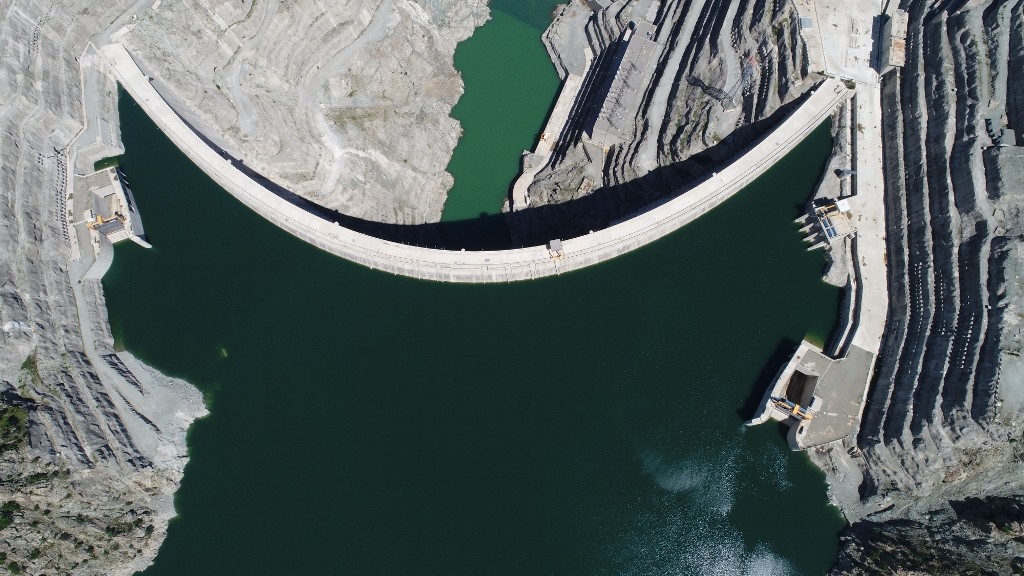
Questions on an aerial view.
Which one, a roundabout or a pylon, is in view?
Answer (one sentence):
Of the two, only a pylon appears.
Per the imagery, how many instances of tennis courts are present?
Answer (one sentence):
The photo contains no tennis courts.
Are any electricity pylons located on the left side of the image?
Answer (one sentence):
No, I can find no electricity pylon on the left side of the image.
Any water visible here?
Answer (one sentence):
Yes, water shows up in the scene.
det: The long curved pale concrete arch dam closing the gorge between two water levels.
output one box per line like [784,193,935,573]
[99,41,848,283]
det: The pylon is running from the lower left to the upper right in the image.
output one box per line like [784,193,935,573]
[716,70,762,114]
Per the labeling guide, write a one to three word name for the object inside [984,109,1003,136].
shed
